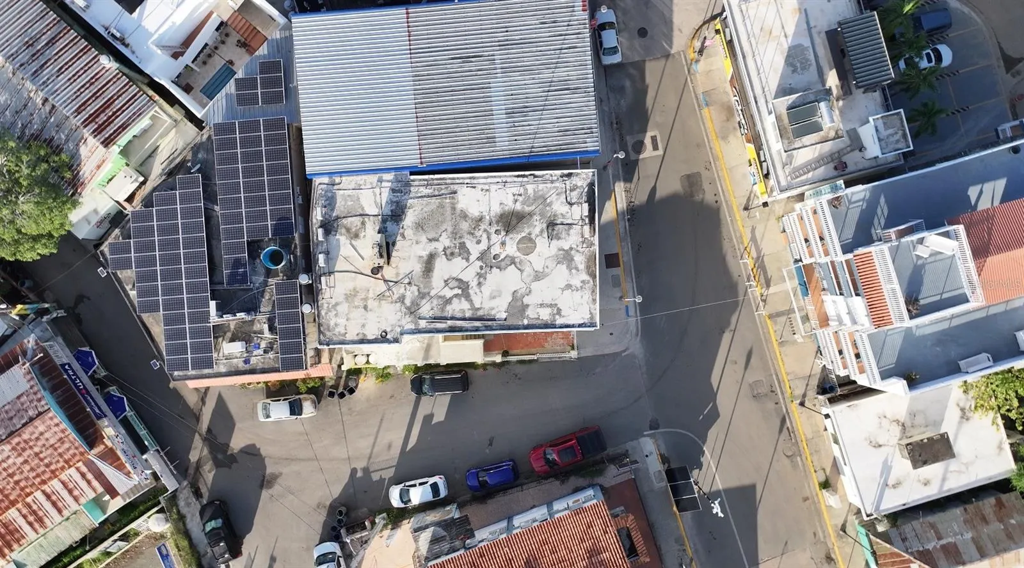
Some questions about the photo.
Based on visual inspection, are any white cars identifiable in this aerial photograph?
Yes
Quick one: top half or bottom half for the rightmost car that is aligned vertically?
top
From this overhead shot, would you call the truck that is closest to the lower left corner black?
Yes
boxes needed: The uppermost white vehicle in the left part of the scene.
[255,395,317,423]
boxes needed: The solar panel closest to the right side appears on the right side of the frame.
[666,465,702,513]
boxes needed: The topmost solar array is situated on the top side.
[235,60,285,106]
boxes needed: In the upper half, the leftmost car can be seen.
[595,5,622,65]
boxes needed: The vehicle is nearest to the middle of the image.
[409,371,469,401]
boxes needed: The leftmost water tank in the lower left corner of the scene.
[140,512,168,538]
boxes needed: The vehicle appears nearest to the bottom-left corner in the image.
[196,499,236,568]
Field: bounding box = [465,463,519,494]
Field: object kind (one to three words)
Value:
car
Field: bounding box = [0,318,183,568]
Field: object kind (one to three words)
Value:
building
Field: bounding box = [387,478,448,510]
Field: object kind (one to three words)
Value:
car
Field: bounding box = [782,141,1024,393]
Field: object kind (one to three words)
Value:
house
